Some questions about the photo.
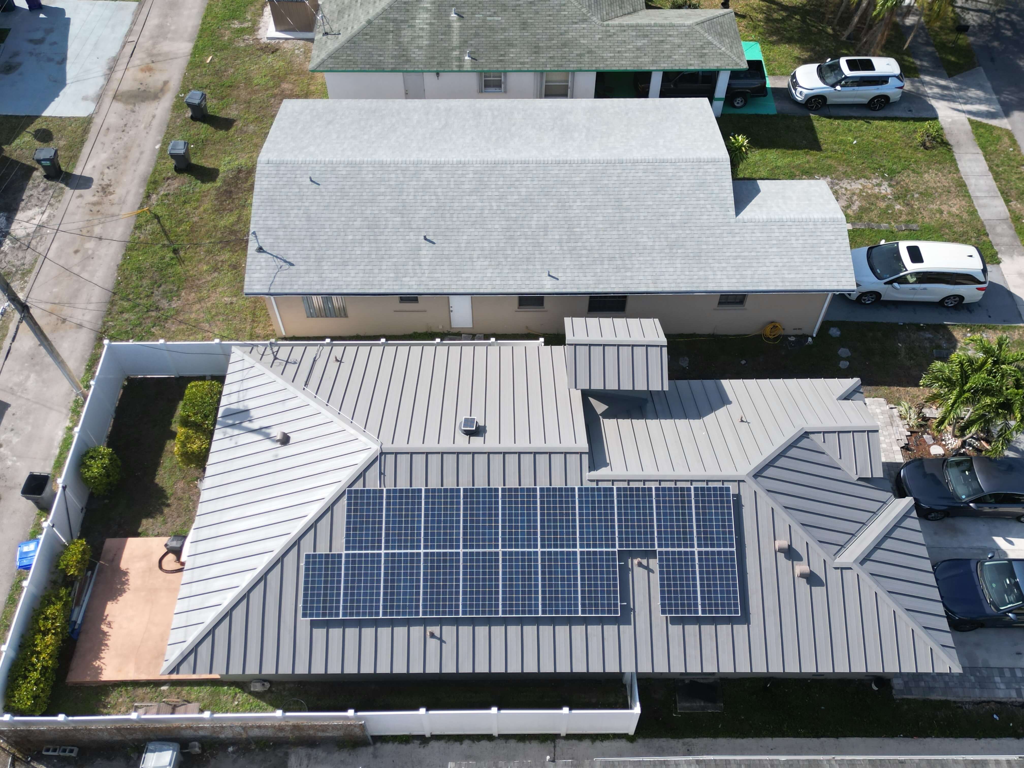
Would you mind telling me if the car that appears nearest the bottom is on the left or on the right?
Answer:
right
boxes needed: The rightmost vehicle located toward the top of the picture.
[844,239,991,308]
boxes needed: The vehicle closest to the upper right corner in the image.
[782,53,905,109]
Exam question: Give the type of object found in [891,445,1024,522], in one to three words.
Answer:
car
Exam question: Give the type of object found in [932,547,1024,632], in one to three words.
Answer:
car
